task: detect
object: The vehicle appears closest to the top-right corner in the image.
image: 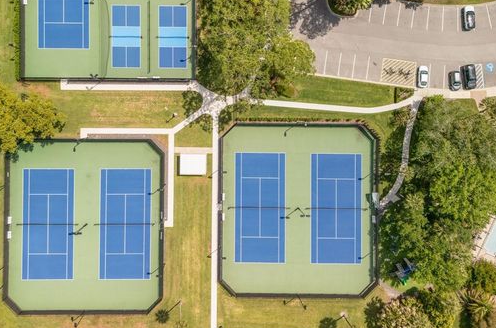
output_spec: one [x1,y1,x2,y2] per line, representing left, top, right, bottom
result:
[464,6,477,29]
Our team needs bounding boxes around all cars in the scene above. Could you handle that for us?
[417,65,429,87]
[464,65,479,89]
[450,71,462,91]
[464,6,477,29]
